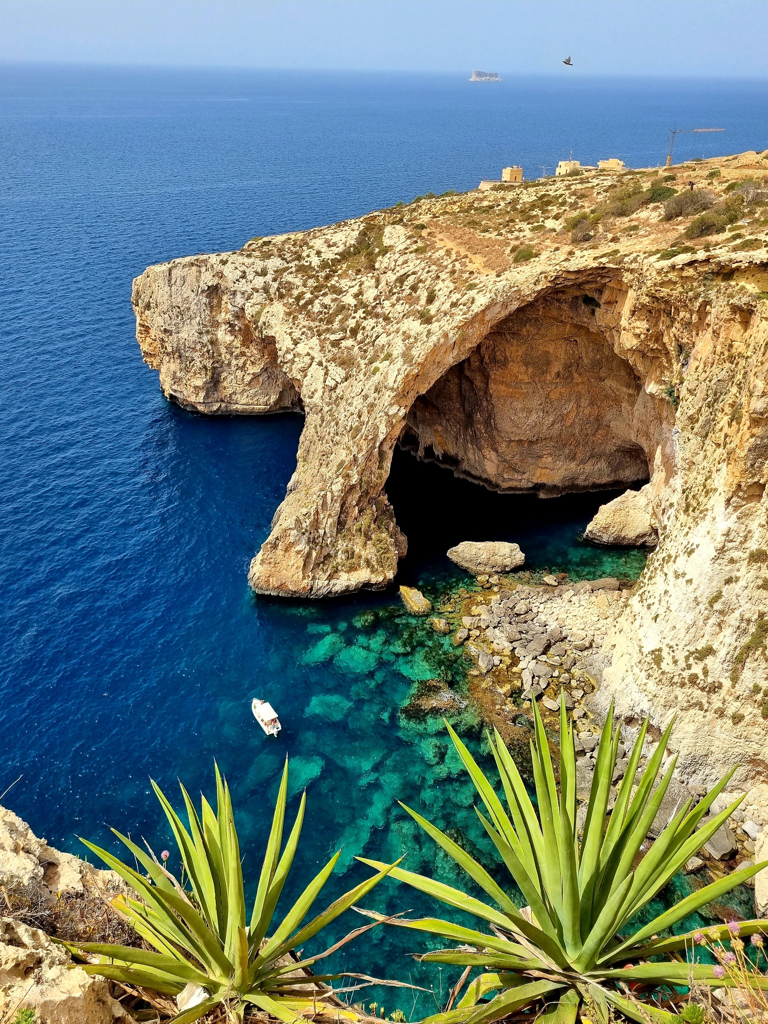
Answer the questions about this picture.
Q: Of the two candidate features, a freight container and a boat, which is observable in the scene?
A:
boat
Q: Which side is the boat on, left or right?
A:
left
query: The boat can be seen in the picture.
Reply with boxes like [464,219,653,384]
[253,698,282,740]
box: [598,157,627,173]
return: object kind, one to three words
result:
house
